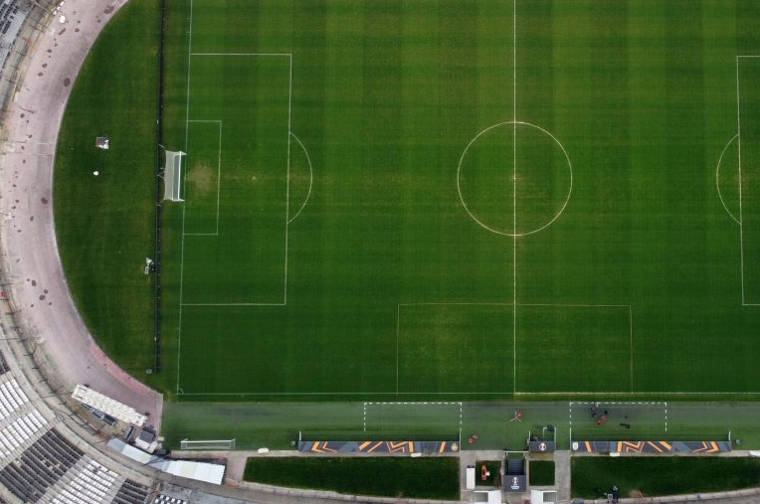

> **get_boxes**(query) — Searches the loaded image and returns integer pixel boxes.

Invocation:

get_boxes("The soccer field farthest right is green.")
[166,0,760,402]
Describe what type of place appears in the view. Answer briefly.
sports ground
